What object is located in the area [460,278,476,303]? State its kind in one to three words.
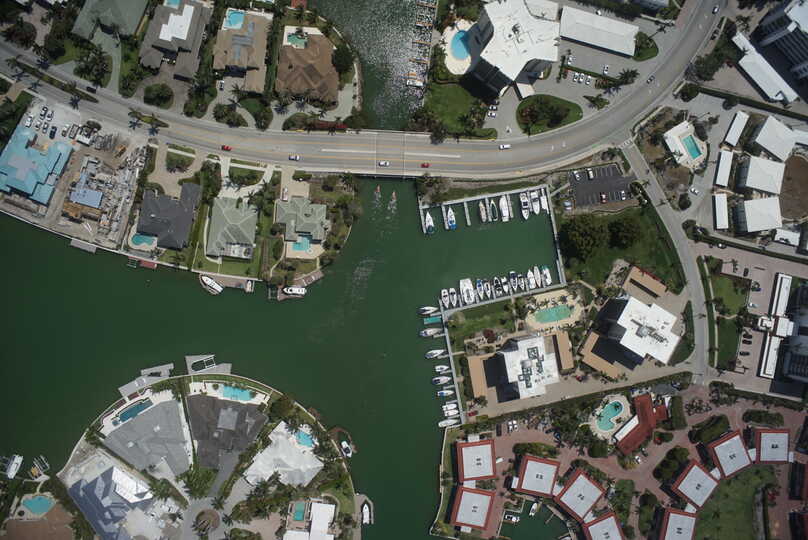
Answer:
boat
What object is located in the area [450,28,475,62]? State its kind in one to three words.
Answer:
swimming pool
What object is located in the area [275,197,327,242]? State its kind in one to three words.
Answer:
house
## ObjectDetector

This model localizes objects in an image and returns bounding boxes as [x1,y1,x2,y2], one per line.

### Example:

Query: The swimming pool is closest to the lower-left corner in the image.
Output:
[21,496,56,517]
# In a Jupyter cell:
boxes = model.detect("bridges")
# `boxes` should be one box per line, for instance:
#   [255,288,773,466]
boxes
[371,132,410,177]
